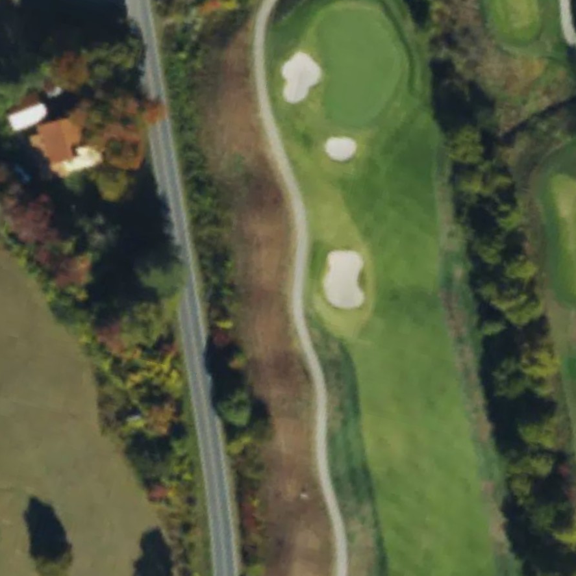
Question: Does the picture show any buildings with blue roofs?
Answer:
No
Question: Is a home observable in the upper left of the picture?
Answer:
Yes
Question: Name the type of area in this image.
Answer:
golf course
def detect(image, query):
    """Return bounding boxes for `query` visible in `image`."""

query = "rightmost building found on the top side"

[29,117,87,175]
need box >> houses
[8,99,48,131]
[29,117,87,175]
